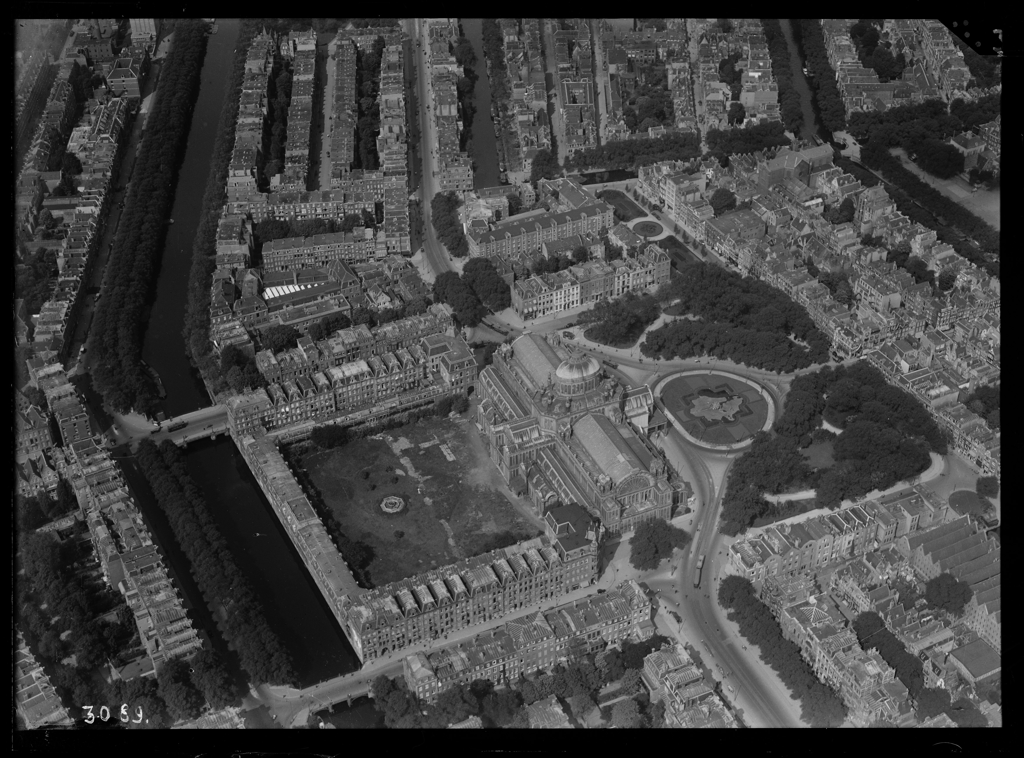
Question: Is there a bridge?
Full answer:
Yes, the image includes a bridge.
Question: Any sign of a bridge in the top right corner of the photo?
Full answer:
Yes, there is a bridge in the top right corner of the photo.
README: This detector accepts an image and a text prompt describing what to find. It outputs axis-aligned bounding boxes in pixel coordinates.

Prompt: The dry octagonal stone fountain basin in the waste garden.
[380,495,404,513]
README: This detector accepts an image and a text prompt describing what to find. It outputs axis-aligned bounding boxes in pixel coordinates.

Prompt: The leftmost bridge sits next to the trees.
[157,403,230,446]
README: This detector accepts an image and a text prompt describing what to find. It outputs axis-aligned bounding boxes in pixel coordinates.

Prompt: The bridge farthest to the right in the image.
[830,131,865,173]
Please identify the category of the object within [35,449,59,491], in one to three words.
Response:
house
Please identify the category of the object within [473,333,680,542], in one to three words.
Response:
building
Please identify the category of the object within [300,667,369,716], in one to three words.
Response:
bridge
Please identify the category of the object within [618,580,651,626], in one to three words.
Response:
house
